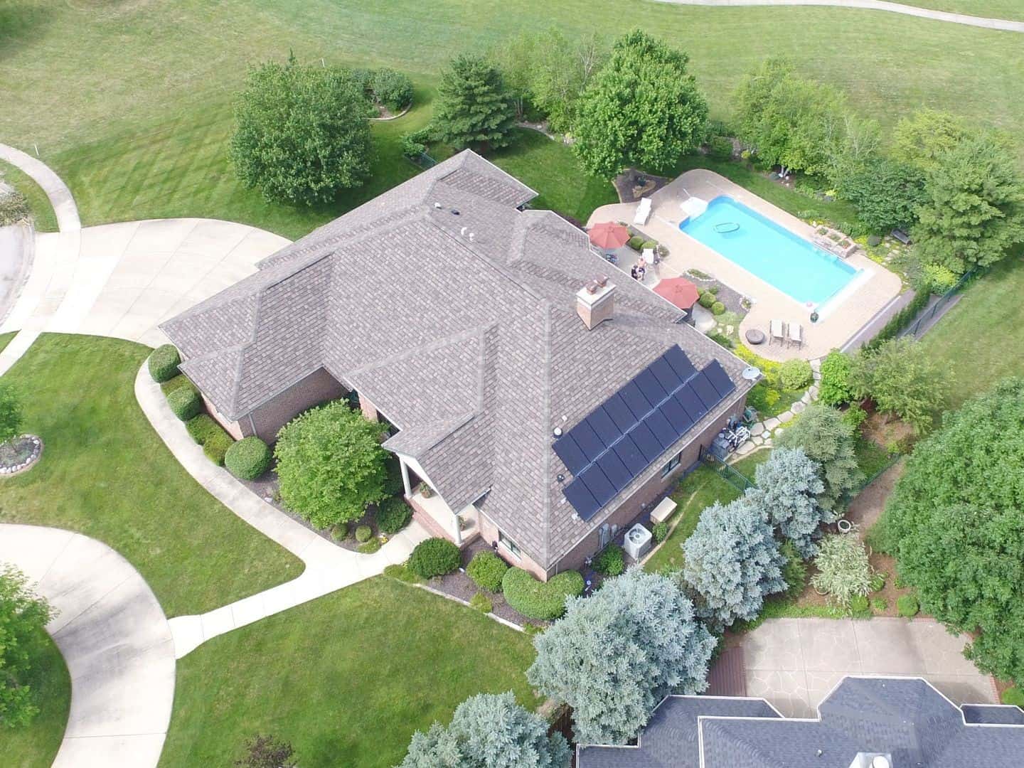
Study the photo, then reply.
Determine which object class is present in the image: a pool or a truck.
pool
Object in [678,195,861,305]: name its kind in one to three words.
swimming pool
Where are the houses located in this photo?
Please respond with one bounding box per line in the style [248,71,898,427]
[157,148,766,583]
[576,675,1024,768]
